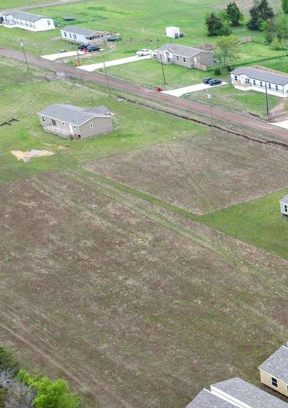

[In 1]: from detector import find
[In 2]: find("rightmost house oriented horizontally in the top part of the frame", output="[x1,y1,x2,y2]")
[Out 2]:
[228,66,288,99]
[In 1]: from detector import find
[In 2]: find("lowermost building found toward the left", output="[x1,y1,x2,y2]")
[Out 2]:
[32,104,112,140]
